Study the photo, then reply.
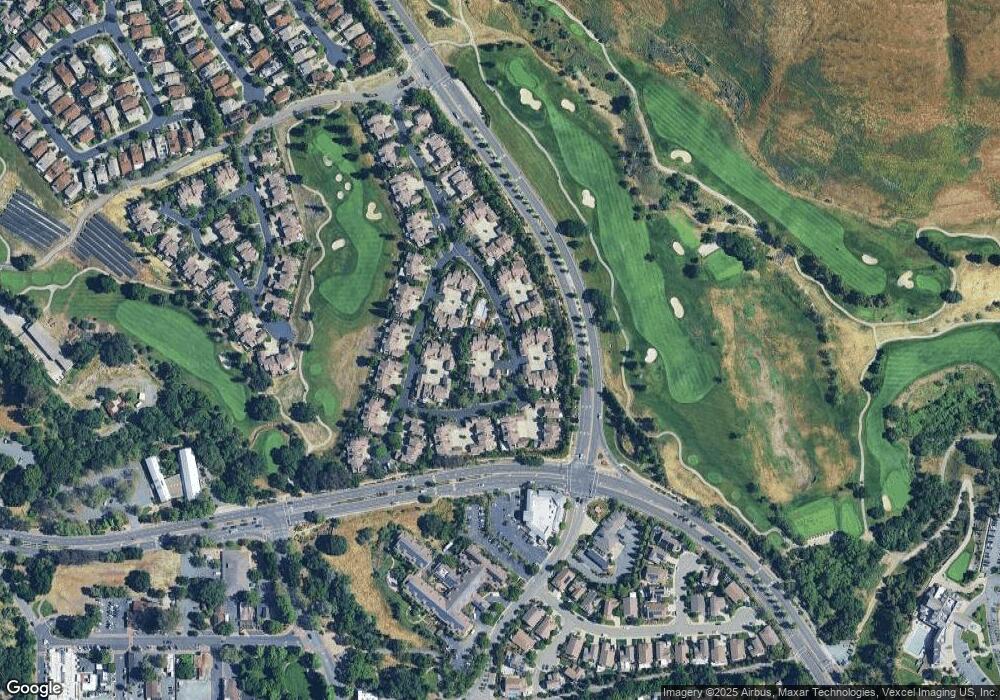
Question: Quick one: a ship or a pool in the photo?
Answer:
pool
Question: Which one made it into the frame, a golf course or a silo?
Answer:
golf course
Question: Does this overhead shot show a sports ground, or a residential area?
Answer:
residential area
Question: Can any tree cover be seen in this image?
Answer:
Yes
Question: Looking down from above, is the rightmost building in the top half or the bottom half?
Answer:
bottom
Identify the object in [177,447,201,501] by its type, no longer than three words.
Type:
shed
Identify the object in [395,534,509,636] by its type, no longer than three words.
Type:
building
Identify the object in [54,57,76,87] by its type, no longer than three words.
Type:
house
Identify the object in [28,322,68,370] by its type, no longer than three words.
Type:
barn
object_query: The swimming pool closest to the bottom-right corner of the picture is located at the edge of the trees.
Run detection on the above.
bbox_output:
[906,620,931,656]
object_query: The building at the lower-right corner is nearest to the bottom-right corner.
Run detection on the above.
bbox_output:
[919,587,959,666]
